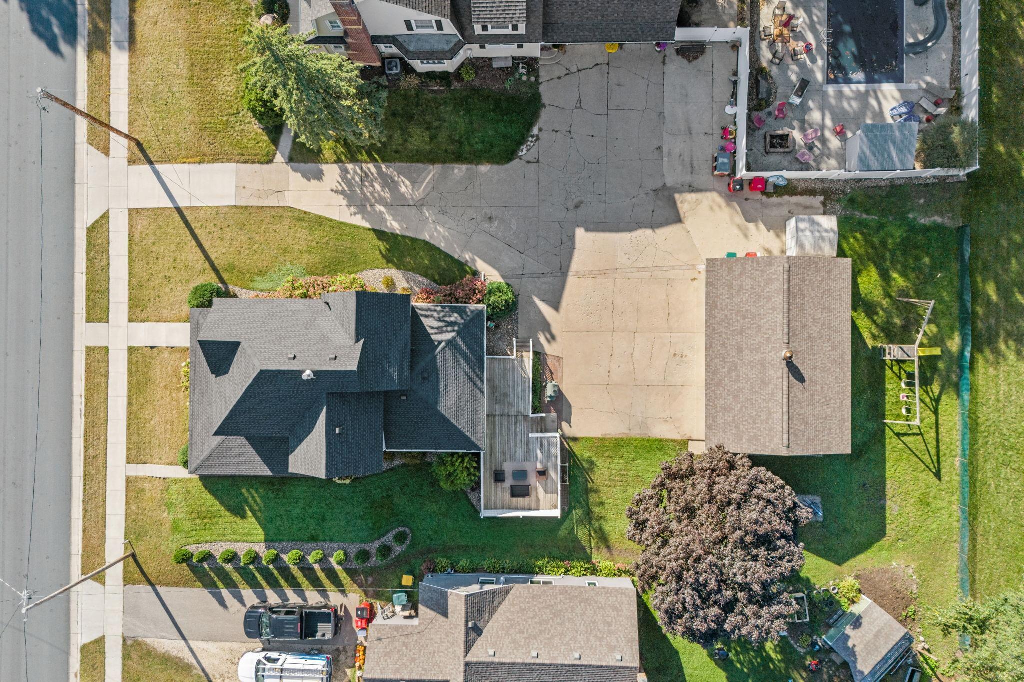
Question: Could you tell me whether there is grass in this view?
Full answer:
Yes, there's grass in this view.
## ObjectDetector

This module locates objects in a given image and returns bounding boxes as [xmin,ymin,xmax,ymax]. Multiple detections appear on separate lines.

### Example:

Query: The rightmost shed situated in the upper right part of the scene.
[847,123,917,169]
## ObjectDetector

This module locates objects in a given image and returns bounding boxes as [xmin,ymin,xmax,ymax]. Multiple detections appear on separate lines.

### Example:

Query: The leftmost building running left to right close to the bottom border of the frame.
[363,569,642,682]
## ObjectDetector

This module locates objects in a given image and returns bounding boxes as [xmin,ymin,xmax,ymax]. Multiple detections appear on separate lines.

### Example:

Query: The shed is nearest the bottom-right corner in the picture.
[812,588,913,682]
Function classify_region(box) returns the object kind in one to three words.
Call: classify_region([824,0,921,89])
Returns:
swimming pool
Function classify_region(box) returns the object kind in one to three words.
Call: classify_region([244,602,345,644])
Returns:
truck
